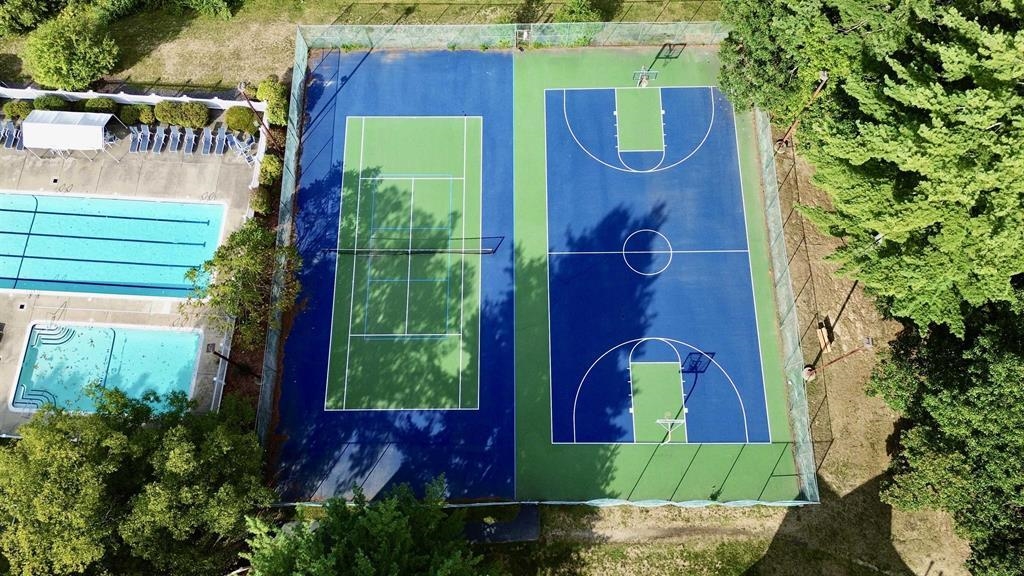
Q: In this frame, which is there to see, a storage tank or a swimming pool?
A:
swimming pool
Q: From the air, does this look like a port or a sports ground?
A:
sports ground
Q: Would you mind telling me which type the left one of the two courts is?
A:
tennis court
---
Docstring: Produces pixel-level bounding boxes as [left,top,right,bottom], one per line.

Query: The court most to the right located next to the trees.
[513,48,799,500]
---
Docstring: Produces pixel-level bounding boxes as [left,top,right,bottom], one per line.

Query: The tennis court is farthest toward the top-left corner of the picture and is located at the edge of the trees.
[271,48,515,500]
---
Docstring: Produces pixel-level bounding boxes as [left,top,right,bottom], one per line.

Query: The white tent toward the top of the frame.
[24,111,126,162]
